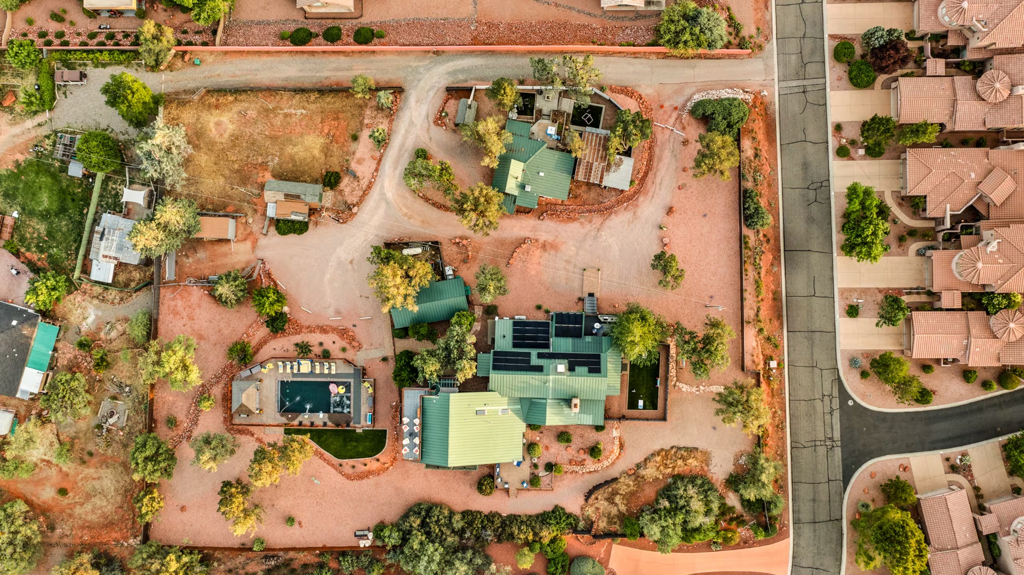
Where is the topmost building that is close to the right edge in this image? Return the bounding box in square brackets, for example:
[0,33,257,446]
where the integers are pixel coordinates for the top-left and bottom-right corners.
[906,0,1024,64]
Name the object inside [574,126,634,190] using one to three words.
shed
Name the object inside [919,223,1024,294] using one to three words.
house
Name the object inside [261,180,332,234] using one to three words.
barn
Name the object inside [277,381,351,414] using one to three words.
swimming pool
